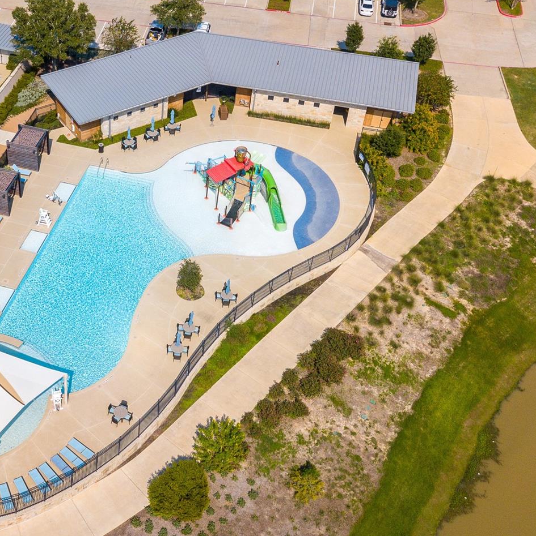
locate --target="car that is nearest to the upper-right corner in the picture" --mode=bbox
[381,0,399,17]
